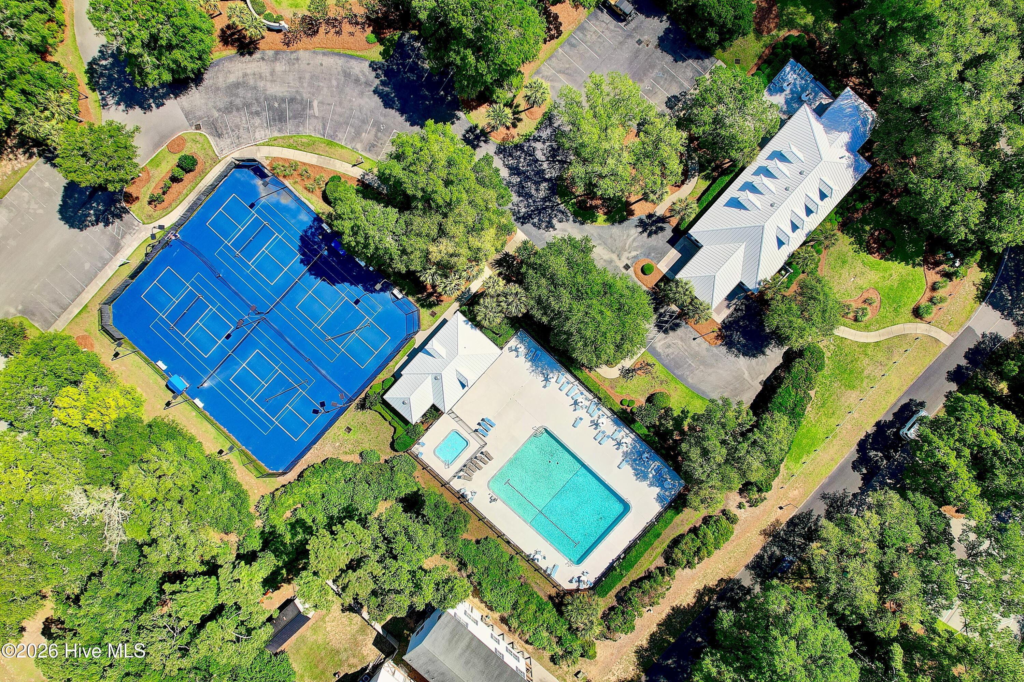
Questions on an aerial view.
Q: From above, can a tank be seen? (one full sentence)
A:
No, I can see no tank in this picture.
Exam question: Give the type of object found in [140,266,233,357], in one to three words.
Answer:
sports court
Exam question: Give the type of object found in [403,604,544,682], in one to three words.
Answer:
house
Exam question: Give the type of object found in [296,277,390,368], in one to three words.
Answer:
sports court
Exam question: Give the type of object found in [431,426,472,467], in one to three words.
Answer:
swimming pool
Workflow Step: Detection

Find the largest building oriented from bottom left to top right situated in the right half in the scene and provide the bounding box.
[672,86,882,311]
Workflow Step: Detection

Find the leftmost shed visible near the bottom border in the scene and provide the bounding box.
[271,601,316,649]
